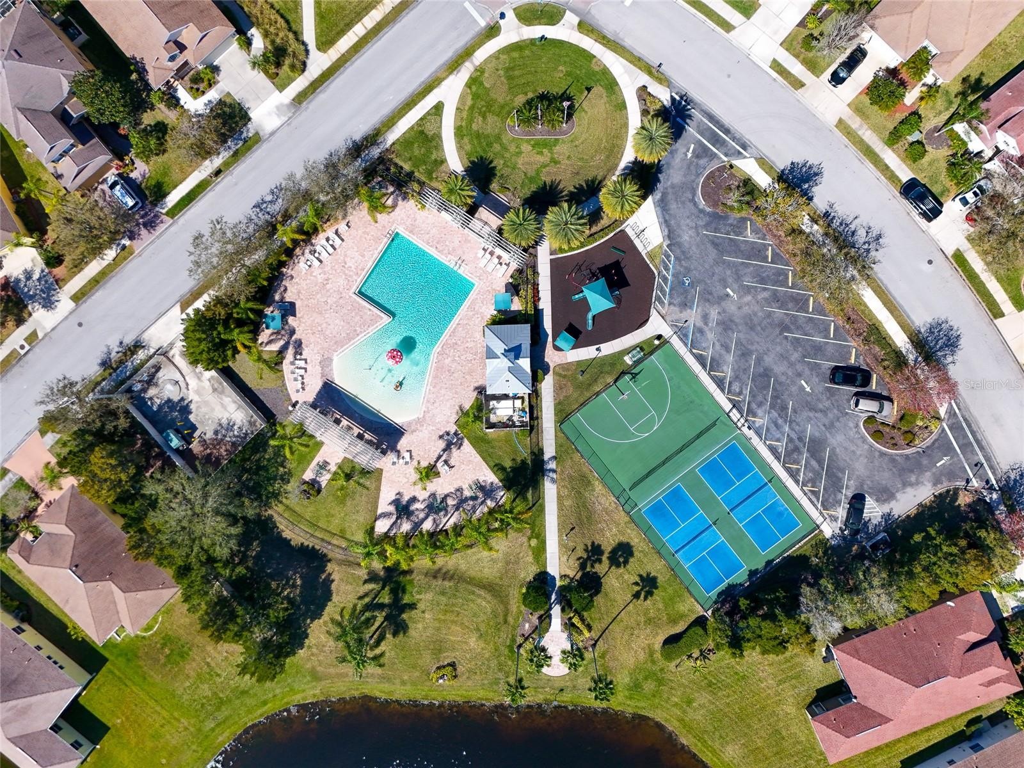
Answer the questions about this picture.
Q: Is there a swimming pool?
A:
Yes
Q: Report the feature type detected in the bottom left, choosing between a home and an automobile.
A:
home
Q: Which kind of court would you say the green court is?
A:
basketball court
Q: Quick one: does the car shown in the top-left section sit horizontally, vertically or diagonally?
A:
diagonally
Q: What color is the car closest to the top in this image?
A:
black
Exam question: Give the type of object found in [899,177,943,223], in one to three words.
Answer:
car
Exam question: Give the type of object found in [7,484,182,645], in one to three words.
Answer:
house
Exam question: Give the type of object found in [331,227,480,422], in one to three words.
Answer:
swimming pool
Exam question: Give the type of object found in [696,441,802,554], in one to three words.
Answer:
sports court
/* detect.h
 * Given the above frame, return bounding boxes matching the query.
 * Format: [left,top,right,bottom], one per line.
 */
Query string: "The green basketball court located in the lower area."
[556,344,817,615]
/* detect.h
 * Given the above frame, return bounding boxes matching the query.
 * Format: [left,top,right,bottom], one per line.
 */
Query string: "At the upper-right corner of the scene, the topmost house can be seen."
[858,0,1024,84]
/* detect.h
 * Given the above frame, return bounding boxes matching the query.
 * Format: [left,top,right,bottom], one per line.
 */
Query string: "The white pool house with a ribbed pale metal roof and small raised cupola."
[485,324,532,394]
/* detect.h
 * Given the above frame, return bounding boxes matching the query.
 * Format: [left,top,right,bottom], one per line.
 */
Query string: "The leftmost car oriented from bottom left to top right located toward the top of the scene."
[827,43,868,89]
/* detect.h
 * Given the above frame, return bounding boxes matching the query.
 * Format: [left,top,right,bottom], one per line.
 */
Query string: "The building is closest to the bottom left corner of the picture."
[0,604,93,768]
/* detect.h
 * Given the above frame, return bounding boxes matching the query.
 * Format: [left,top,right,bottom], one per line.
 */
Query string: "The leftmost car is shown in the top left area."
[108,174,143,213]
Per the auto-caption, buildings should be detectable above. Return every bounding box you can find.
[485,324,532,394]
[0,185,49,264]
[0,604,93,768]
[80,0,239,93]
[0,0,104,166]
[858,0,1024,84]
[807,587,1023,763]
[7,484,182,645]
[967,70,1024,183]
[937,715,1024,768]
